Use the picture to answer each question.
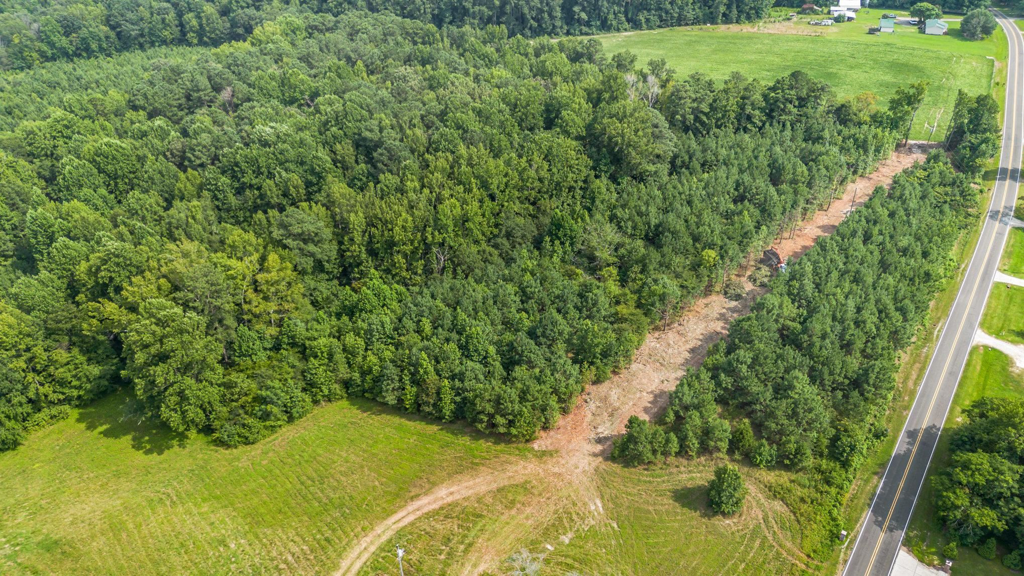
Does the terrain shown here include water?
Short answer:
No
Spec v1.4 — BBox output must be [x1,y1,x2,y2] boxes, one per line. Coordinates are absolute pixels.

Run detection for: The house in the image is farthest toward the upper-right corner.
[916,21,951,35]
